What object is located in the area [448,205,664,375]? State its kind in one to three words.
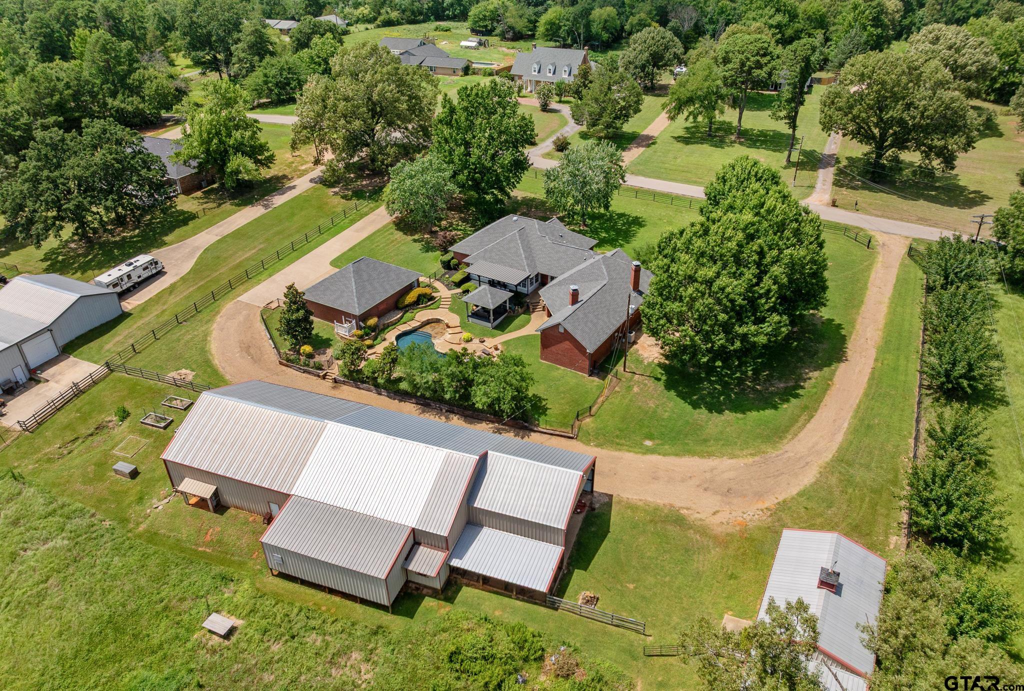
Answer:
house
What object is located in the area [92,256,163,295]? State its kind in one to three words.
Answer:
trailer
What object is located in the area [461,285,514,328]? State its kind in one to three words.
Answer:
gazebo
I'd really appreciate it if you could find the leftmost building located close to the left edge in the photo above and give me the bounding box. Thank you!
[0,277,124,388]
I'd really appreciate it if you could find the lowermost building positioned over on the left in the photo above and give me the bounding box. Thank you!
[158,379,600,613]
